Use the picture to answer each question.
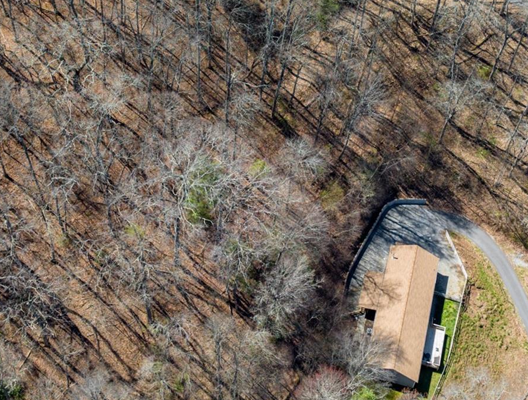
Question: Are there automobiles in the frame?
No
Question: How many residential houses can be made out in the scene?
1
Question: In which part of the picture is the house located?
bottom right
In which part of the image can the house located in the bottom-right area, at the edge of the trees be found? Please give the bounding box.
[359,245,447,393]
